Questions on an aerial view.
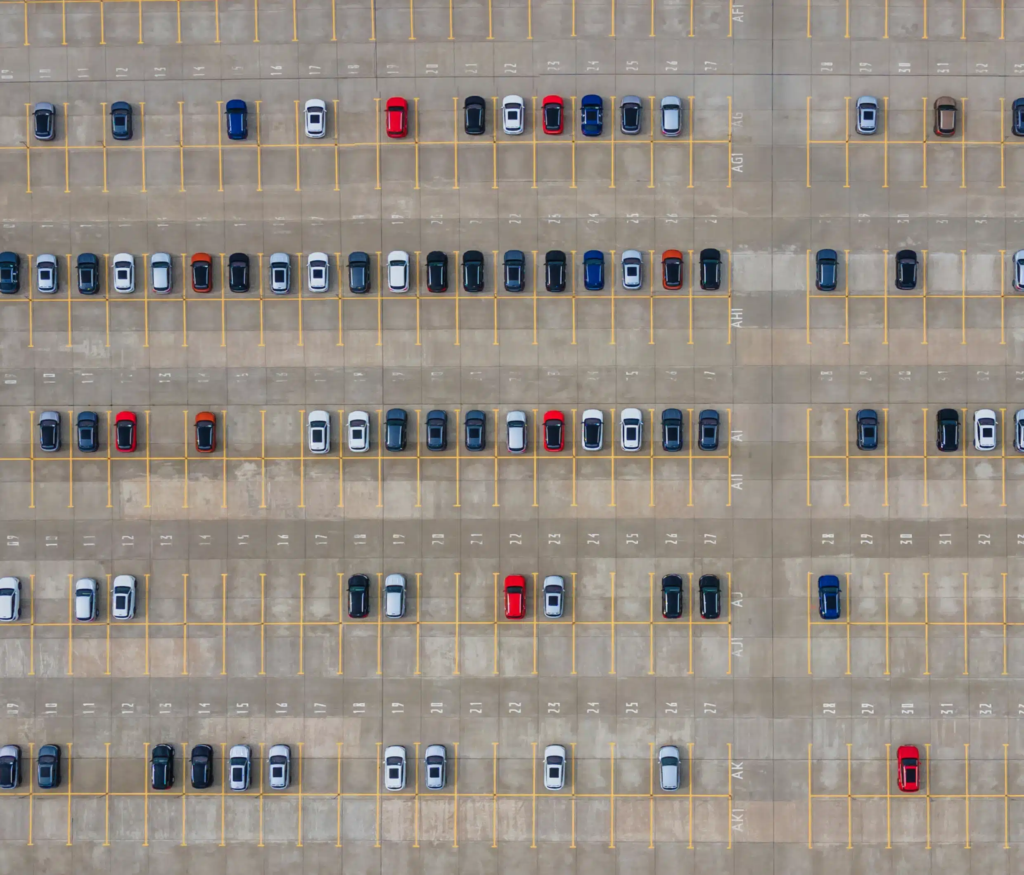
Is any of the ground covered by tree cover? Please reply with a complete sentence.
No, there's no tree cover in this view.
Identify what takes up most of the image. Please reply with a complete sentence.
The largest share of the image is taken up by paved ground.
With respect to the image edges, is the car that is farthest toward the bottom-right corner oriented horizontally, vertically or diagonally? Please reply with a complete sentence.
The car that is farthest toward the bottom-right corner runs vertically in the image.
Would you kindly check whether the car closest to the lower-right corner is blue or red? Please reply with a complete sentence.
The car closest to the lower-right corner is red.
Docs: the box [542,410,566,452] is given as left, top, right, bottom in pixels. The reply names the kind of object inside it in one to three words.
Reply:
car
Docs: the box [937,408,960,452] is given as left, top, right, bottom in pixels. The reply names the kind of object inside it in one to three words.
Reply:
car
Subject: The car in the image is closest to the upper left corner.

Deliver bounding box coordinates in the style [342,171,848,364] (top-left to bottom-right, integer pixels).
[32,103,57,141]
